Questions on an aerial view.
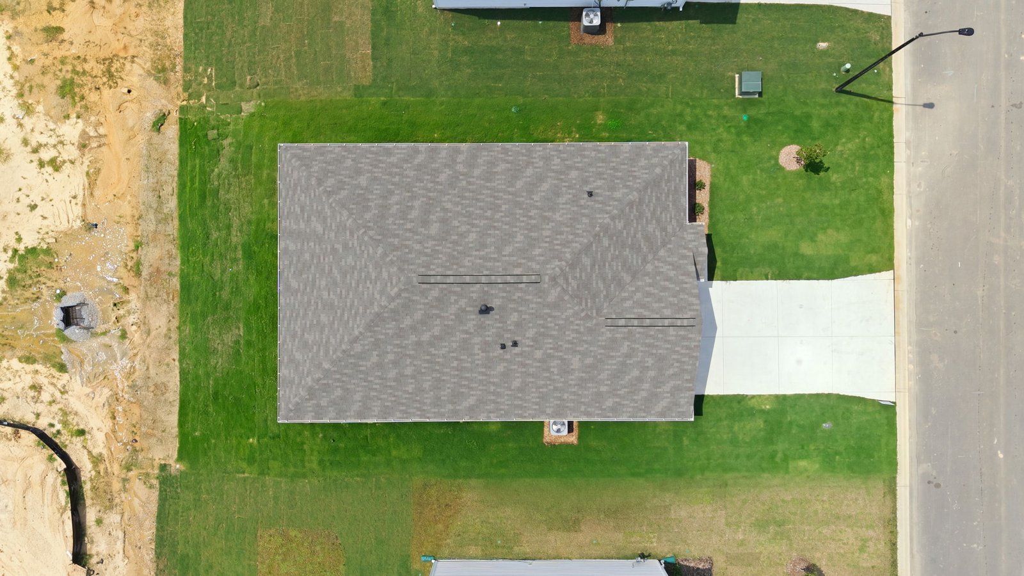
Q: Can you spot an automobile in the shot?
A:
No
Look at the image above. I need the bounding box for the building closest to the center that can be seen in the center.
[276,140,707,424]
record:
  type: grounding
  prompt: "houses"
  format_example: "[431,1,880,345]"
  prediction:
[428,556,670,576]
[276,140,707,424]
[431,0,686,13]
